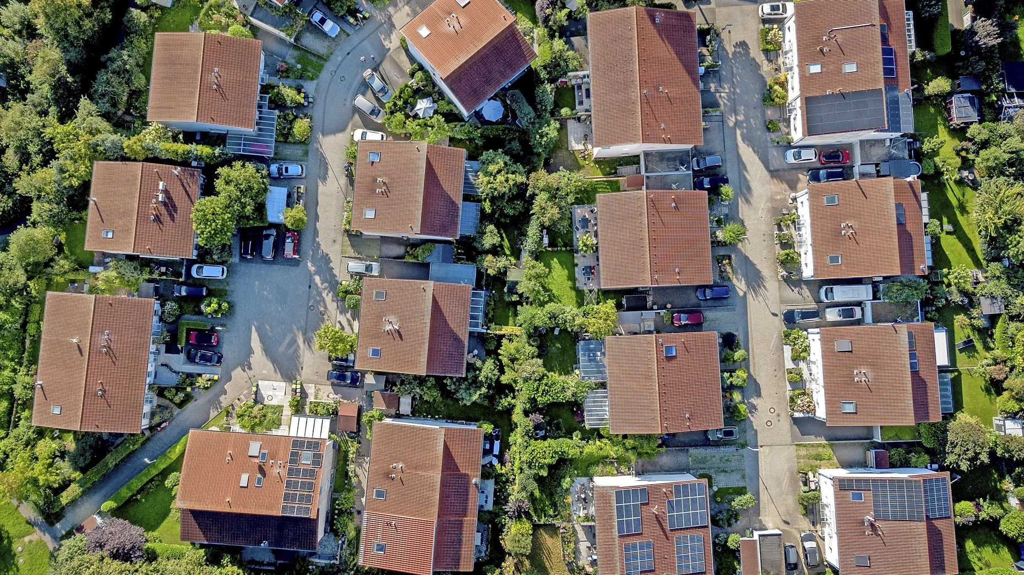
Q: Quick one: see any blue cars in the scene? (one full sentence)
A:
Yes, there's a blue car here.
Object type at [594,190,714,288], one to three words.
house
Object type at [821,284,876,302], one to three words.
vehicle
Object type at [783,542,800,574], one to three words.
car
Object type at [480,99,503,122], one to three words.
umbrella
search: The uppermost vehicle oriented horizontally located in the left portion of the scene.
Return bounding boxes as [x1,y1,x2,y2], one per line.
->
[355,127,385,141]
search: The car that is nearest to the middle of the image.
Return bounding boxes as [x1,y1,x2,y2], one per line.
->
[346,261,381,277]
